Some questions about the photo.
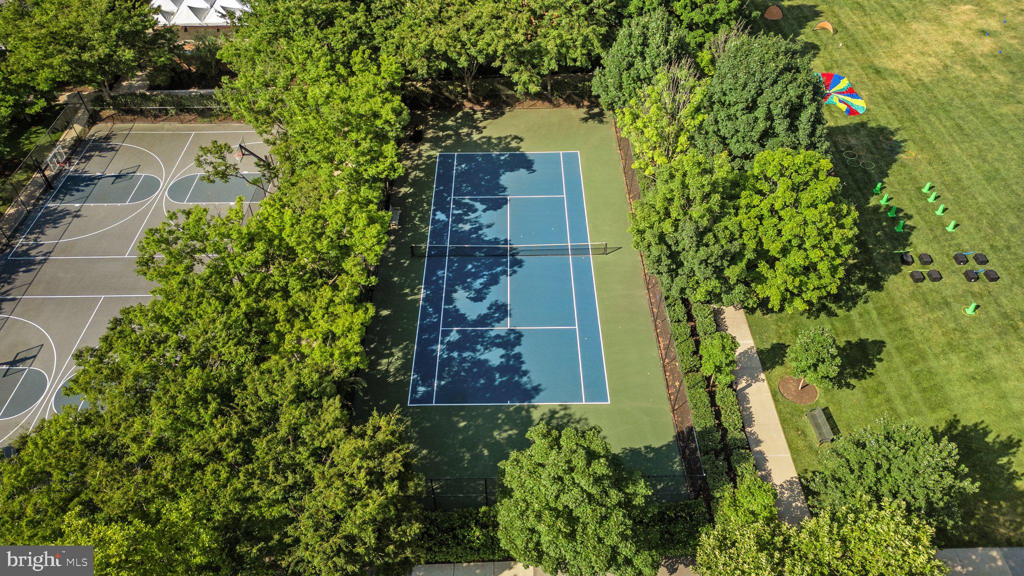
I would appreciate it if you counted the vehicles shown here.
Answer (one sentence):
The photo contains no vehicles.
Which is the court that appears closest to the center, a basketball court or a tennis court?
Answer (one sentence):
I'd identify the court that appears closest to the center as a tennis court.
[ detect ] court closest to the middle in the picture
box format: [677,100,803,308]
[333,107,689,504]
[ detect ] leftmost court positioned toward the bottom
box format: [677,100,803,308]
[0,275,226,529]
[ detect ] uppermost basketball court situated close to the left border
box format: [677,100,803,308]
[0,123,300,277]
